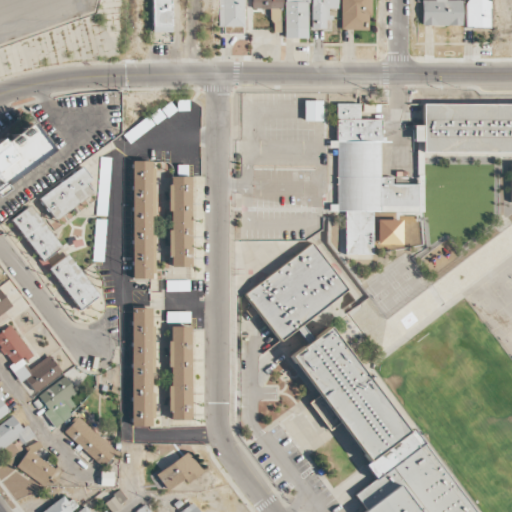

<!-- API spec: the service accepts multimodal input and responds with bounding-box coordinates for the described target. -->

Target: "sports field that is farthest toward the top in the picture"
[426,165,494,256]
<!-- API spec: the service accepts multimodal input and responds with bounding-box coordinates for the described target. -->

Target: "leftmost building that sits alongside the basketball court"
[246,245,348,340]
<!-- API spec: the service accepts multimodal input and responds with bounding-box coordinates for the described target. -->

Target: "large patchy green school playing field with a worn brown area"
[380,298,512,512]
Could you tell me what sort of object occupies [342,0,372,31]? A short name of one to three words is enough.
house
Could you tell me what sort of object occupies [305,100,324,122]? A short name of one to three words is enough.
shed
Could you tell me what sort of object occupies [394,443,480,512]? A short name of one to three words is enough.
building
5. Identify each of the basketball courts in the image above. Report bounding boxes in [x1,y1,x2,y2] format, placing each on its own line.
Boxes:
[362,254,431,318]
